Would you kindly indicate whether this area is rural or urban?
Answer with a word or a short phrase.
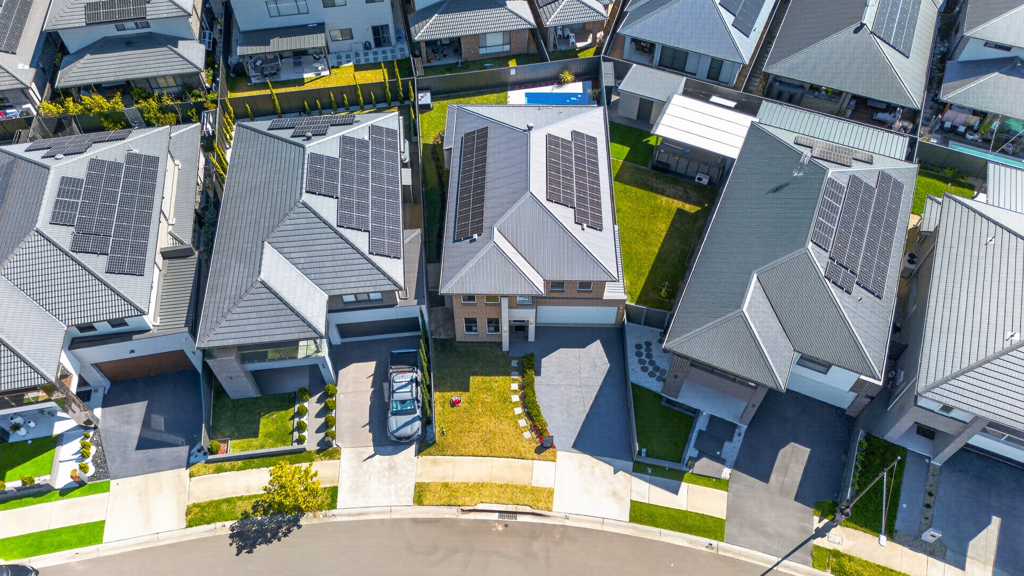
urban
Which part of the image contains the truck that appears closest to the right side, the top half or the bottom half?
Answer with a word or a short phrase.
bottom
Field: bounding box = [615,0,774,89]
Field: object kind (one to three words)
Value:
house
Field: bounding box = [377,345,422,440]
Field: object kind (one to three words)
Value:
truck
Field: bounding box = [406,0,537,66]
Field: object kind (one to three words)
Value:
house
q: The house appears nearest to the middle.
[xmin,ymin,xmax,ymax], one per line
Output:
[437,104,631,351]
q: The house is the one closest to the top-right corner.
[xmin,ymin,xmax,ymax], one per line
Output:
[930,0,1024,148]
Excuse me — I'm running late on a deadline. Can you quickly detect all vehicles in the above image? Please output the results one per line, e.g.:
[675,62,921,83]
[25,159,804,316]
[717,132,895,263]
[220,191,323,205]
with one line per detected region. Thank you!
[377,345,422,440]
[0,559,42,576]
